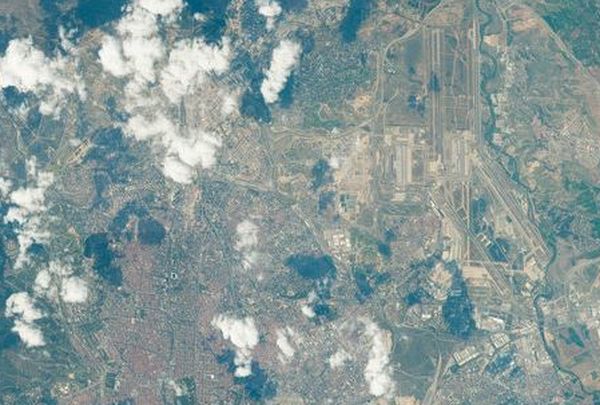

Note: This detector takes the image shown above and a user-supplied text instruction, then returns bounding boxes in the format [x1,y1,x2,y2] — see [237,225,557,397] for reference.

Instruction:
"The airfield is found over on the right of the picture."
[384,18,553,300]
